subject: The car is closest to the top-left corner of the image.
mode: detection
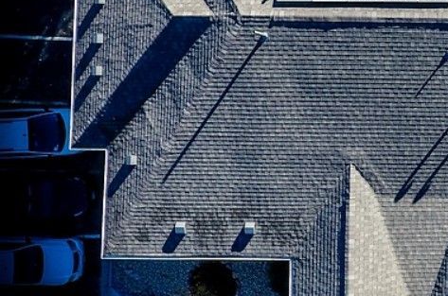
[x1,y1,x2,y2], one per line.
[0,104,81,164]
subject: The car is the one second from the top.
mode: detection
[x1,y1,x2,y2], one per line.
[0,174,91,234]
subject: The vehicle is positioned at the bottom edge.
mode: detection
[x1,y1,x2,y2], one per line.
[0,233,88,295]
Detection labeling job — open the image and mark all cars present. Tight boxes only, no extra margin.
[0,233,88,295]
[0,104,81,164]
[0,174,91,234]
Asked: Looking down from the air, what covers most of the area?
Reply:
buildings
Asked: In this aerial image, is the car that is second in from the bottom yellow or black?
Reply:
black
